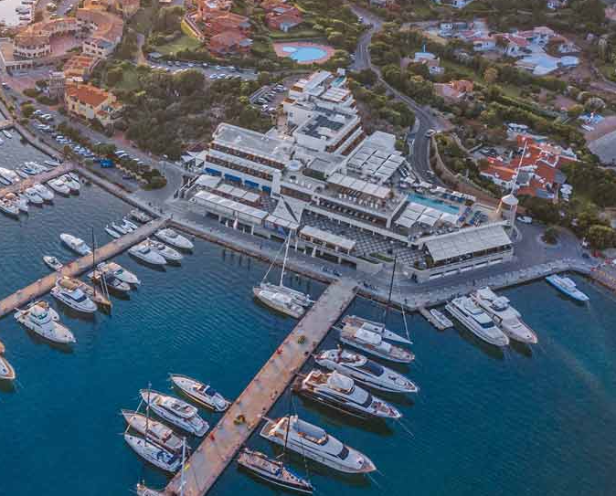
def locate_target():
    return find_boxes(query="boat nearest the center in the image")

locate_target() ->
[254,240,312,320]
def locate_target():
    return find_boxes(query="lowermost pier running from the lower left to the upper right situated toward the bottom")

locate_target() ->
[165,280,361,496]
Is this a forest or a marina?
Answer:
marina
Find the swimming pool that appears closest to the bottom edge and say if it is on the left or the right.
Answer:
right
